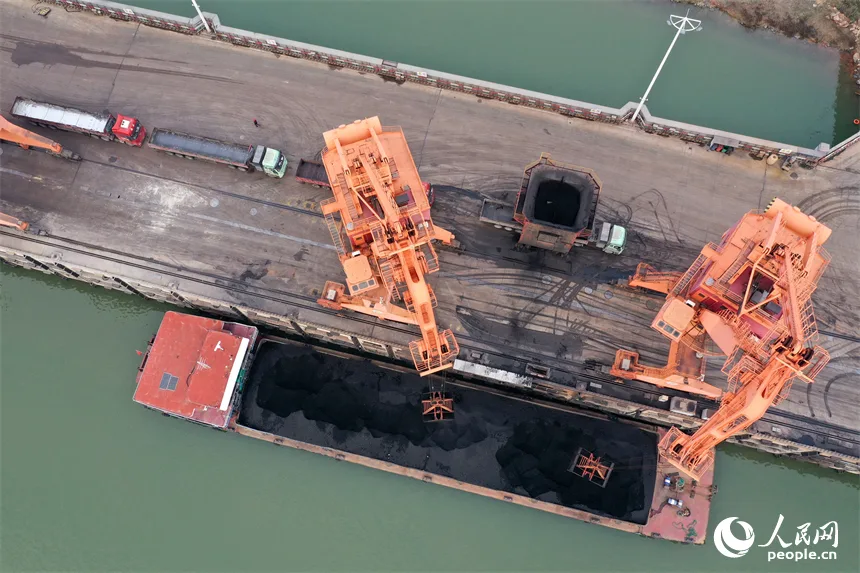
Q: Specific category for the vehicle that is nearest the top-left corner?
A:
truck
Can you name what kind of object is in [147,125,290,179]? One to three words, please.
truck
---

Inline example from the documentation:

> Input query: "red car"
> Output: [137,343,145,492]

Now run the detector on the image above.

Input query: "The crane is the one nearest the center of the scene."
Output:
[316,113,472,376]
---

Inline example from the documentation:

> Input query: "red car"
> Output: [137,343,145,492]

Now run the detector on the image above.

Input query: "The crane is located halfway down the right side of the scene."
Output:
[591,198,831,483]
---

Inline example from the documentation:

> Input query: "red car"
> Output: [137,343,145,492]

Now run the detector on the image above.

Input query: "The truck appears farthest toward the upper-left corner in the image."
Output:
[10,93,152,147]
